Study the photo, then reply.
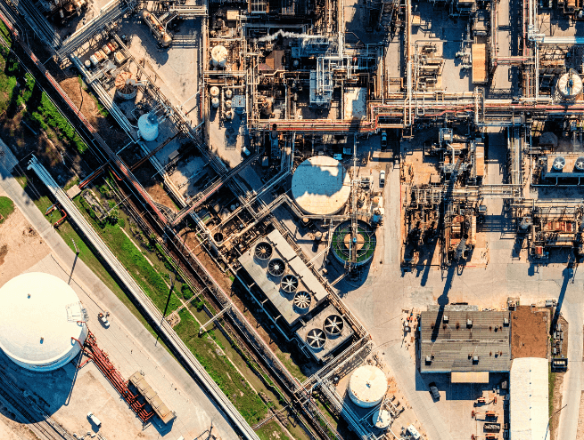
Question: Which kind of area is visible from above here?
industrial area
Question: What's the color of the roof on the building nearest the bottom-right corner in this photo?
white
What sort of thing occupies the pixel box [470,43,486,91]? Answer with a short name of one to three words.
building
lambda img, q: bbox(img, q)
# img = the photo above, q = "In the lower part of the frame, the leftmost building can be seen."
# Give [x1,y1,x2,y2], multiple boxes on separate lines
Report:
[419,312,511,375]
